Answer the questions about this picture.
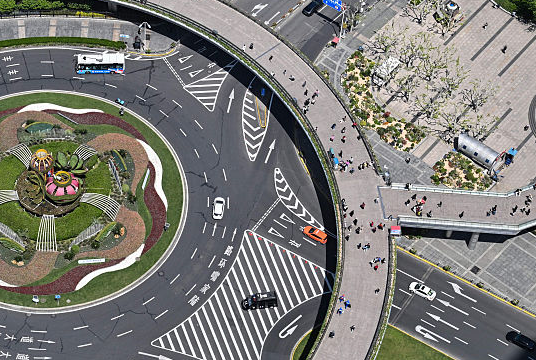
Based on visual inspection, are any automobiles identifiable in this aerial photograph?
Yes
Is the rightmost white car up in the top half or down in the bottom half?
bottom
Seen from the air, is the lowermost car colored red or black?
black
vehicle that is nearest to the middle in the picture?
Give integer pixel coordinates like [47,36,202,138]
[213,196,225,219]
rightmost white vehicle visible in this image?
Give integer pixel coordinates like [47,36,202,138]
[408,281,437,301]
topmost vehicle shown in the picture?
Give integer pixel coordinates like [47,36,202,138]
[302,0,325,16]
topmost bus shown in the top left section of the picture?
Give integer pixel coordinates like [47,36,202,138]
[72,55,125,76]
